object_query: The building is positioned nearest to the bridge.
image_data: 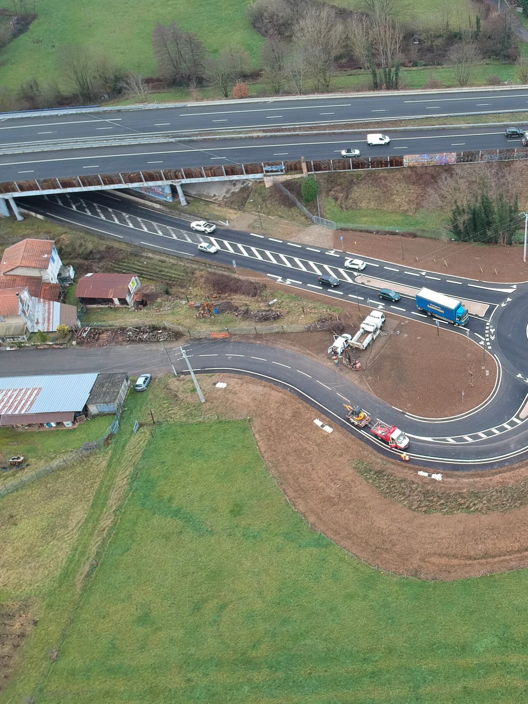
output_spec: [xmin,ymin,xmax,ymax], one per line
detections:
[7,235,66,287]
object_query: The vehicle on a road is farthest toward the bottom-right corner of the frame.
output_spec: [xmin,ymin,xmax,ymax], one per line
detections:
[371,418,411,450]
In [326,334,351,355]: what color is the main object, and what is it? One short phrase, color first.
white vehicle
